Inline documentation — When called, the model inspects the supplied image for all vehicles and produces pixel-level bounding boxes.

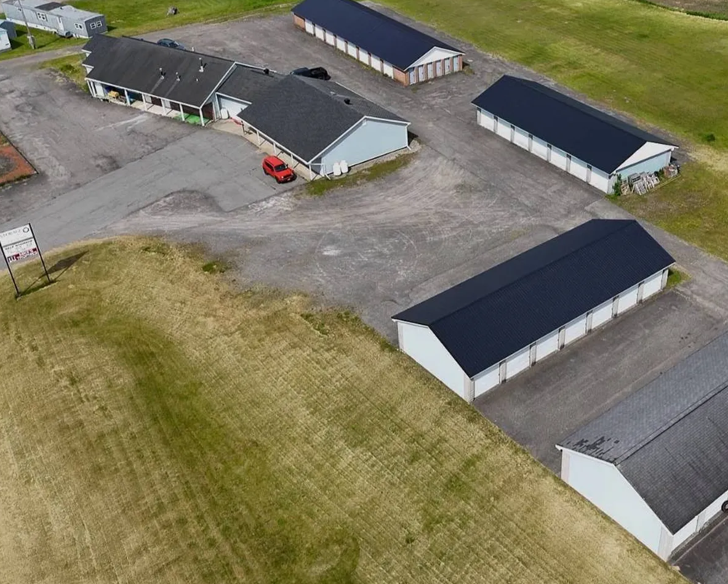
[288,65,335,81]
[156,37,188,51]
[260,154,297,184]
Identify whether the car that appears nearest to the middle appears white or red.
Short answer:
red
